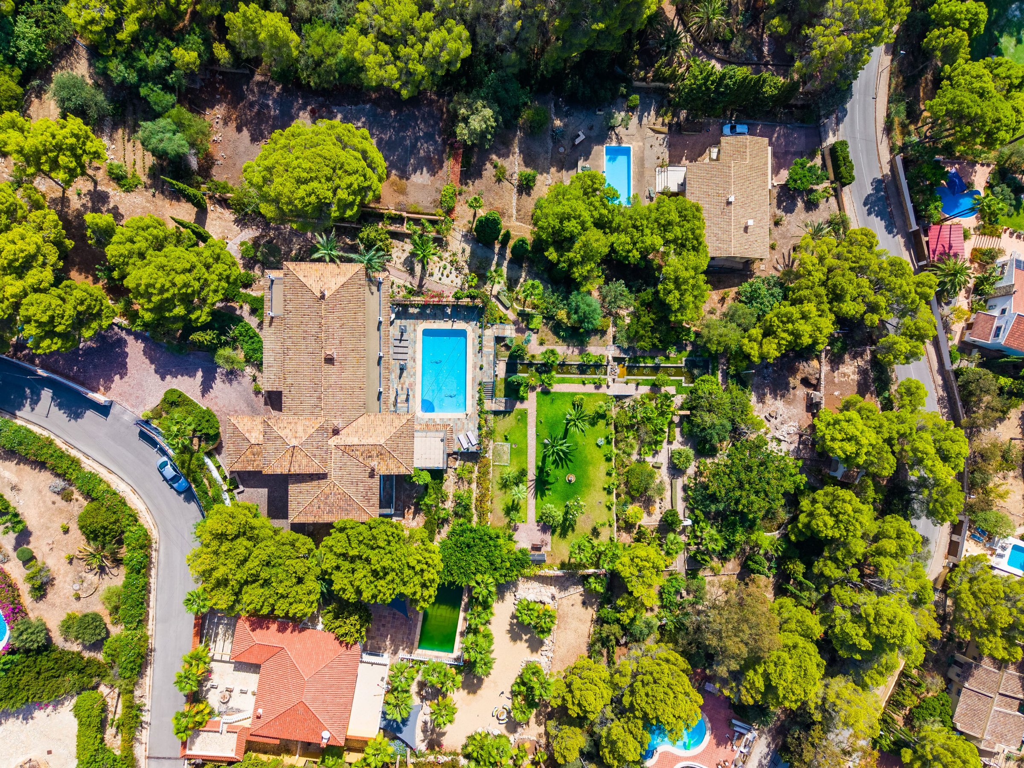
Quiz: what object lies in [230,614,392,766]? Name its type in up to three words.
house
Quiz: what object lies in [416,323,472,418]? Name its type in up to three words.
swimming pool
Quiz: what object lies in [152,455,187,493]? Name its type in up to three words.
car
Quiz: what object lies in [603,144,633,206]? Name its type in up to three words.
swimming pool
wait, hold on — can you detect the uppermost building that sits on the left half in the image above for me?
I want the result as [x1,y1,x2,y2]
[225,261,453,523]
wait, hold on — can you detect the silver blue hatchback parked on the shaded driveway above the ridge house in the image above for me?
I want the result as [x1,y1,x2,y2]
[723,120,752,136]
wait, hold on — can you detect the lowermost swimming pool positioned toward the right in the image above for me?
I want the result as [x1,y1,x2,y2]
[639,702,711,762]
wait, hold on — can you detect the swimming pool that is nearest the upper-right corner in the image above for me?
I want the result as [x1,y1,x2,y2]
[939,182,986,220]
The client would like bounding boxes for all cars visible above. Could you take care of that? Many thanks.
[152,455,187,493]
[723,120,752,136]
